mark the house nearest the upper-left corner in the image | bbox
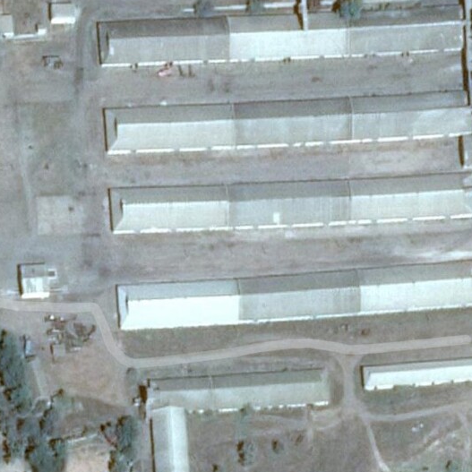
[0,15,14,39]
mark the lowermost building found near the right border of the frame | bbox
[362,357,472,387]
